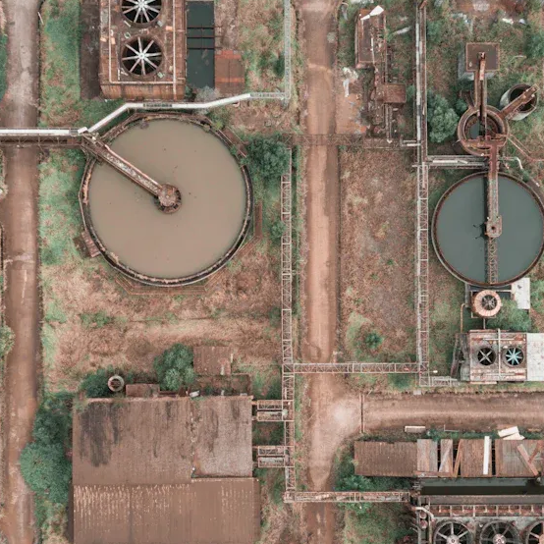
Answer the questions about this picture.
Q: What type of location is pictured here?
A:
industrial area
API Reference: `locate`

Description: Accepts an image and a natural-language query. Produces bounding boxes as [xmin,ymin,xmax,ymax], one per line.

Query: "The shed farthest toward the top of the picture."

[193,347,231,374]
